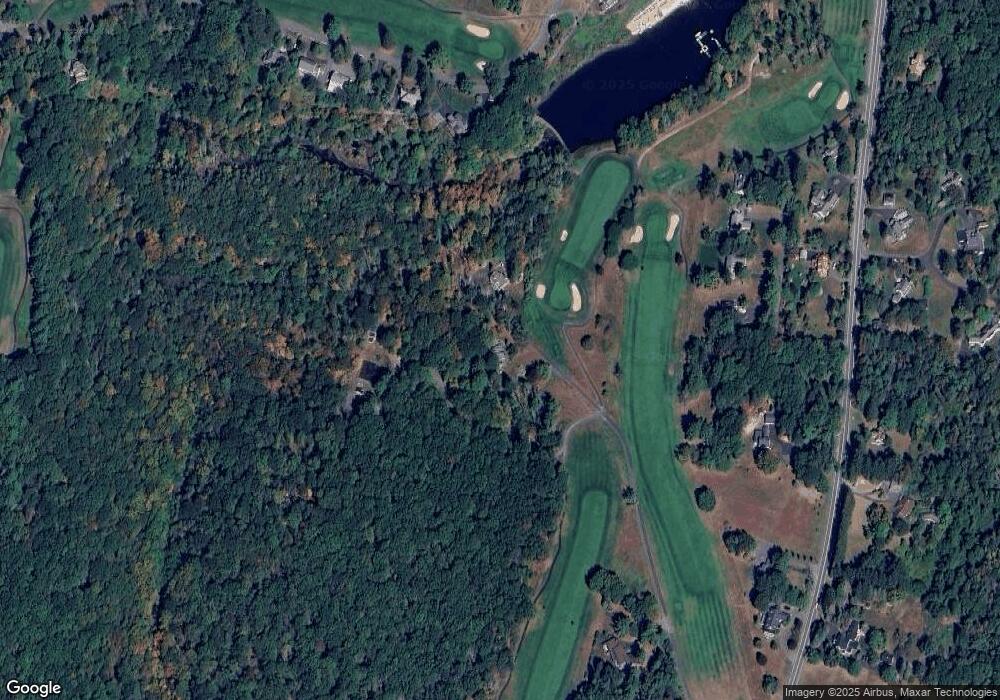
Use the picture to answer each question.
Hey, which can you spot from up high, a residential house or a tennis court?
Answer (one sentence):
Looking from above, you can make out a residential house.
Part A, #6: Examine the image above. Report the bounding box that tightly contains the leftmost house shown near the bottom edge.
[603,634,646,667]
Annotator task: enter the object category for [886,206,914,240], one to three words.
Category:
house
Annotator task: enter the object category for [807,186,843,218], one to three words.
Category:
house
